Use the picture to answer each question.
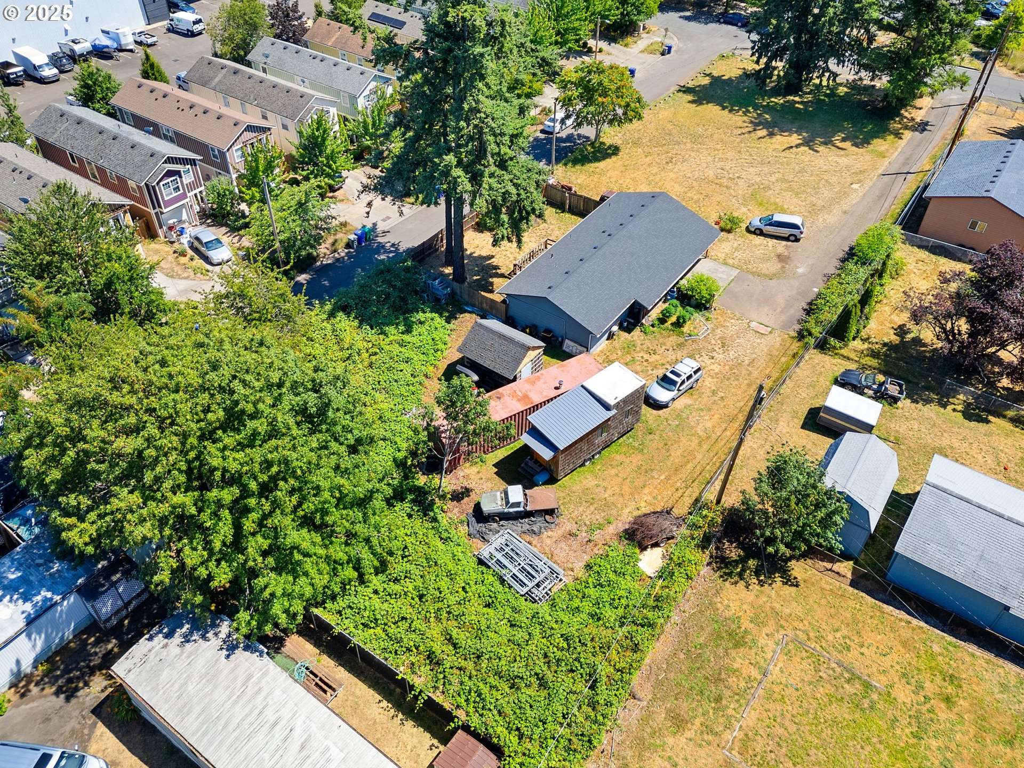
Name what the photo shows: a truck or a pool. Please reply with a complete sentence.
Visible in the photo is a truck.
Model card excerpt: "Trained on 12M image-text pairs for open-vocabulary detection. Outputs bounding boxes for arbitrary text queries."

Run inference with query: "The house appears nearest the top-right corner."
[919,141,1024,256]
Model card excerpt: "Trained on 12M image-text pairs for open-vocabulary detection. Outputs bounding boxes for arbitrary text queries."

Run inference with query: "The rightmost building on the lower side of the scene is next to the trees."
[881,445,1024,644]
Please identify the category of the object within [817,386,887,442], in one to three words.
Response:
trailer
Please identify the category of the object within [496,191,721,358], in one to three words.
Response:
house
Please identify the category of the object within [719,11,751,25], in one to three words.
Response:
car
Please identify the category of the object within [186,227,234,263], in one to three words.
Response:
car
